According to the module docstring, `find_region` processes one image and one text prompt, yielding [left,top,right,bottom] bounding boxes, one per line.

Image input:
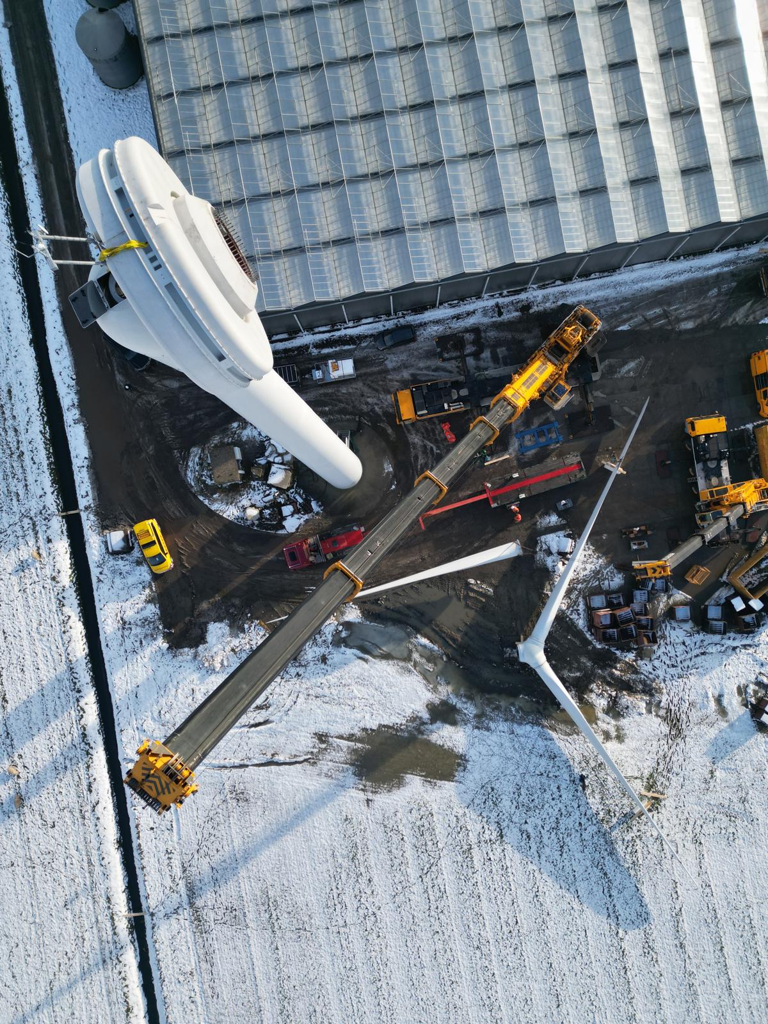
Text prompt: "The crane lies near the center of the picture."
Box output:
[118,301,609,814]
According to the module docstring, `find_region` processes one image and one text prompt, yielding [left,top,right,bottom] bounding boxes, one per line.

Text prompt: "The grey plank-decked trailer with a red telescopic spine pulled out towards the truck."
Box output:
[421,450,589,530]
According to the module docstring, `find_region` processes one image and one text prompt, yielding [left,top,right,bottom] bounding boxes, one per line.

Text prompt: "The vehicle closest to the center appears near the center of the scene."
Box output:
[285,513,383,571]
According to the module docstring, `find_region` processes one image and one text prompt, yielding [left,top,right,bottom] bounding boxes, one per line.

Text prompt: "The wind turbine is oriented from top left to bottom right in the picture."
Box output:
[7,136,359,486]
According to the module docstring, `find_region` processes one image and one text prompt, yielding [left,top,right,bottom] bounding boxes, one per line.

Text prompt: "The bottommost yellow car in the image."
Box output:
[130,518,171,573]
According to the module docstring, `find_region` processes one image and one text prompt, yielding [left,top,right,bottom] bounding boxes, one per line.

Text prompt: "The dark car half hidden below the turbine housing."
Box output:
[98,333,149,374]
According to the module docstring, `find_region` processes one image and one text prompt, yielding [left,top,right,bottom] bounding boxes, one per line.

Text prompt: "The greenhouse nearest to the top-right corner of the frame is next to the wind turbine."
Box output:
[132,0,768,341]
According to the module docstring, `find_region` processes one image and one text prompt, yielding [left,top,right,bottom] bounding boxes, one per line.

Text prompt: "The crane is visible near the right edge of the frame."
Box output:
[632,411,768,578]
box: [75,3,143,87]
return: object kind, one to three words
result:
silo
